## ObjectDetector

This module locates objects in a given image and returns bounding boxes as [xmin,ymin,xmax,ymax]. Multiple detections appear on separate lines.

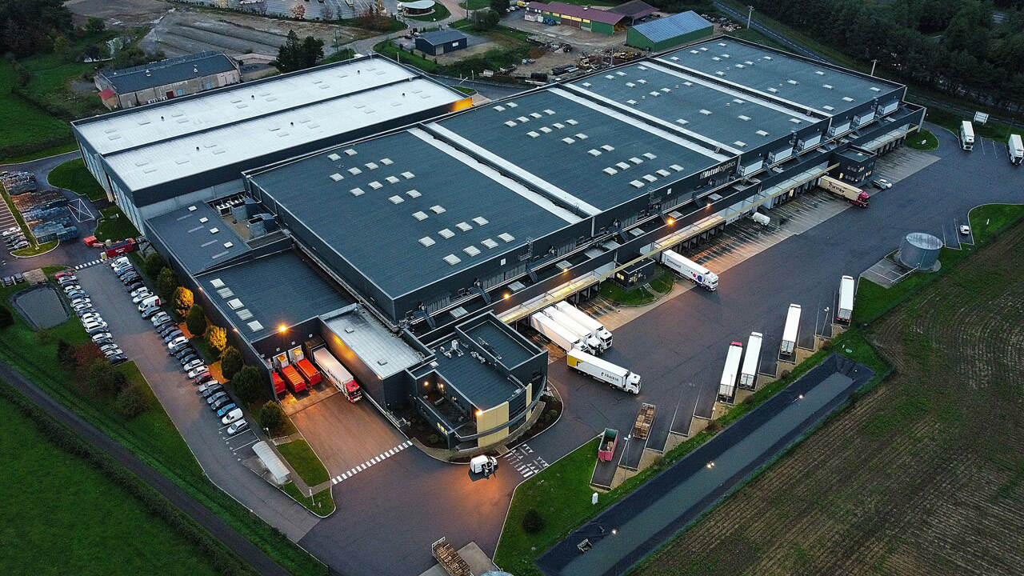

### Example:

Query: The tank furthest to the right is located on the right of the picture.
[895,231,946,273]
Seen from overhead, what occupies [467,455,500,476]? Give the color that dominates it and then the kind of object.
white vehicle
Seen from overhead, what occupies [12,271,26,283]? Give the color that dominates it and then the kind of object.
gray vehicle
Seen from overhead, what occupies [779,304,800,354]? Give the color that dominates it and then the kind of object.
white truck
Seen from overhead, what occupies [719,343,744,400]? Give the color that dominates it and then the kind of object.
white truck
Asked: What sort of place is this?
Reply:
industrial area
